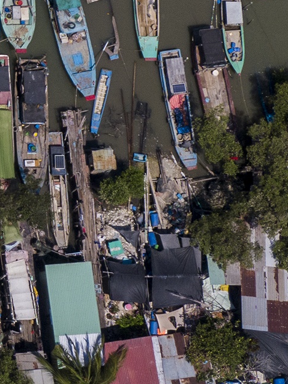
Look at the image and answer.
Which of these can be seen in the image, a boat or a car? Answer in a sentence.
The one in the frame is a boat.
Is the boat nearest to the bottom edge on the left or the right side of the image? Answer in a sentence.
The boat nearest to the bottom edge is on the left side of the image.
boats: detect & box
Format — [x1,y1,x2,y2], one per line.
[217,0,246,74]
[0,0,36,54]
[88,68,112,132]
[0,55,16,181]
[43,0,96,101]
[156,49,197,170]
[14,59,50,191]
[131,0,160,61]
[47,132,70,247]
[187,28,236,143]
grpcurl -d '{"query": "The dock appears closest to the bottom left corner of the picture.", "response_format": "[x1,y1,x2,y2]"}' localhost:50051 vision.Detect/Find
[70,173,102,284]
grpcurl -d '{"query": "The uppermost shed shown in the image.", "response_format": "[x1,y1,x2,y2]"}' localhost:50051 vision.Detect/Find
[86,146,116,170]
